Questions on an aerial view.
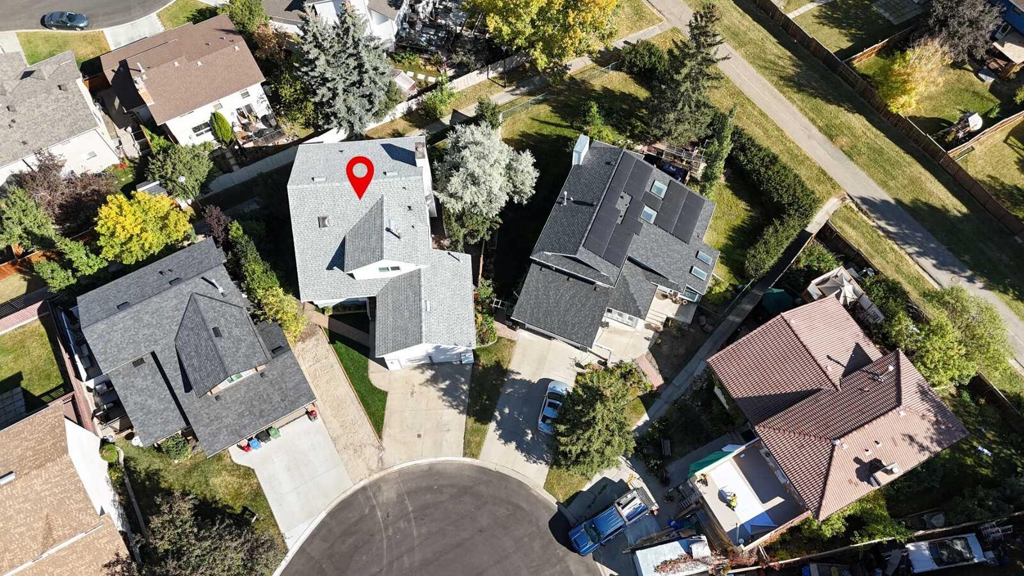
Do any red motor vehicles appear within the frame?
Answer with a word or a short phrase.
No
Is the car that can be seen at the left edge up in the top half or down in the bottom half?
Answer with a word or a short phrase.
top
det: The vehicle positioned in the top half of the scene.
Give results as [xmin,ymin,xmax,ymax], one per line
[42,14,92,34]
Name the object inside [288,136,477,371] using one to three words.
house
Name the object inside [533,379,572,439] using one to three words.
car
